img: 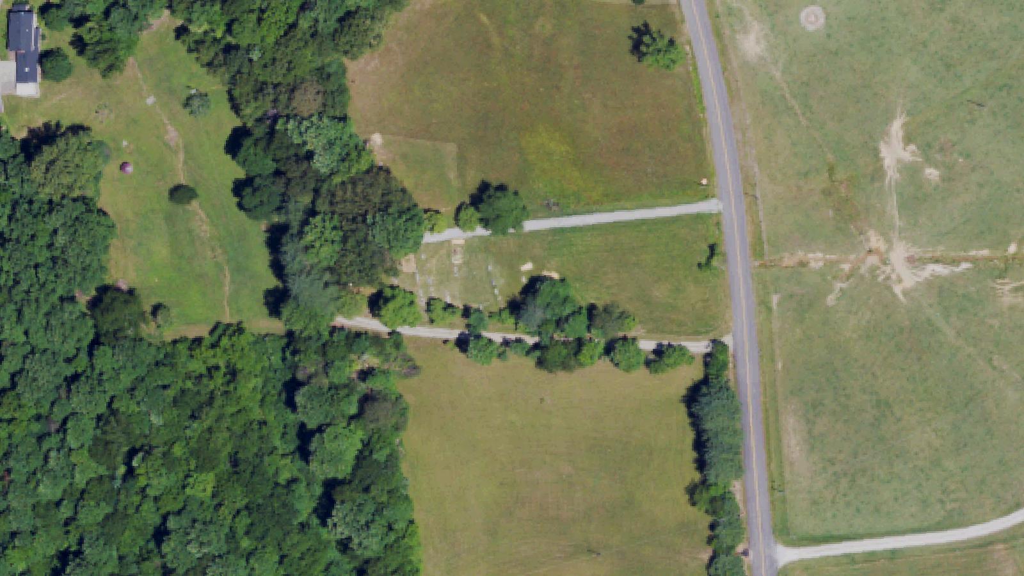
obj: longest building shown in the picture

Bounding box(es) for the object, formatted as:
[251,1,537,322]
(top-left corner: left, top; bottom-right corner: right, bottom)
[8,4,40,97]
